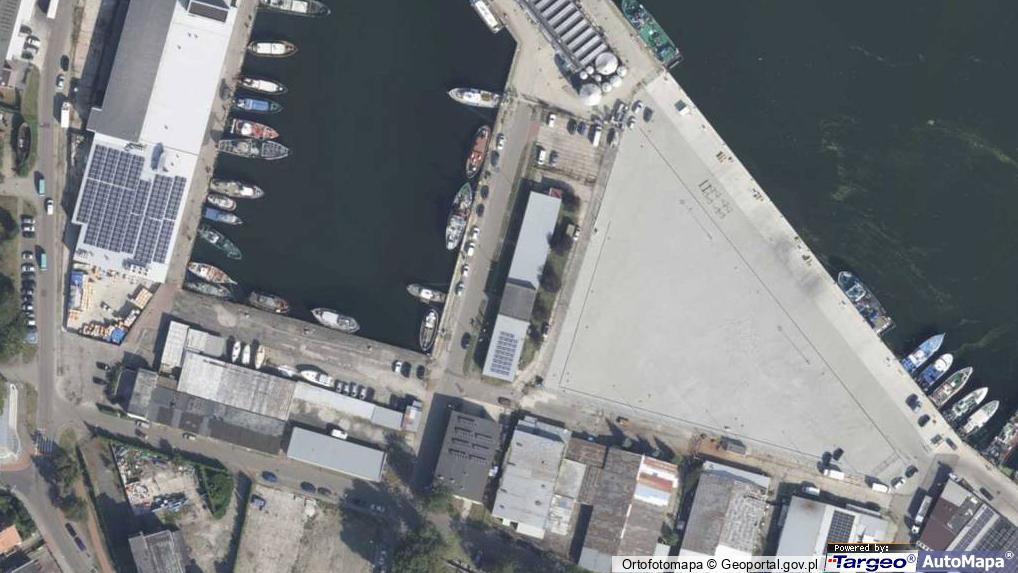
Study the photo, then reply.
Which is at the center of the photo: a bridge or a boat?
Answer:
boat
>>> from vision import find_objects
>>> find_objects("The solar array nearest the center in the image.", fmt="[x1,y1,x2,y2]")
[491,330,521,374]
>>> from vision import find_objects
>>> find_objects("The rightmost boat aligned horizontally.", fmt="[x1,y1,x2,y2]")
[448,87,502,107]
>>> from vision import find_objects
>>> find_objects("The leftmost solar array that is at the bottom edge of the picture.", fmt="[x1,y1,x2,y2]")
[828,511,855,545]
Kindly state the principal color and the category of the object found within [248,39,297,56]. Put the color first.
white boat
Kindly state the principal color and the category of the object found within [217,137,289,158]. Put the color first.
gray ship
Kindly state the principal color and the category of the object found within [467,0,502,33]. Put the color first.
white boat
